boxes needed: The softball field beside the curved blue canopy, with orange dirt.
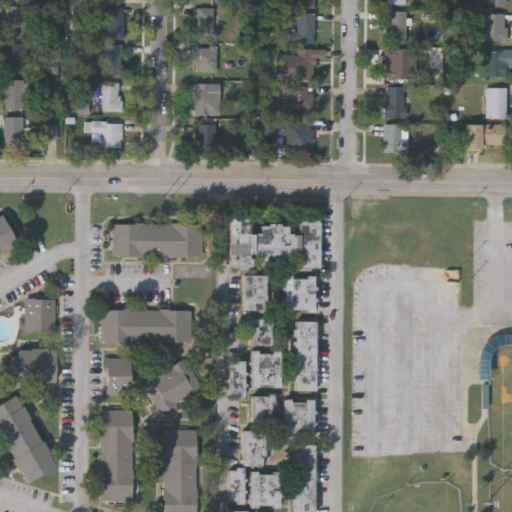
[491,346,512,470]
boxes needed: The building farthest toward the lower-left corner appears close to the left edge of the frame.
[0,398,56,484]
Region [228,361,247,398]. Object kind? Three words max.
building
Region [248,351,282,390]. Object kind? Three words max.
building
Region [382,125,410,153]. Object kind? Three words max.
house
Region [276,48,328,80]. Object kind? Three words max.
house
